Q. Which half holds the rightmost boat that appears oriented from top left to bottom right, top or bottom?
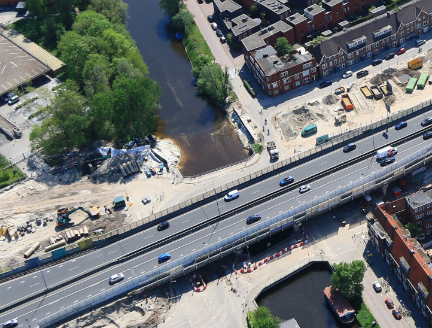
bottom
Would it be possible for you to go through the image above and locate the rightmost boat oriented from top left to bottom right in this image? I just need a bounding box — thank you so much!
[320,284,359,328]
